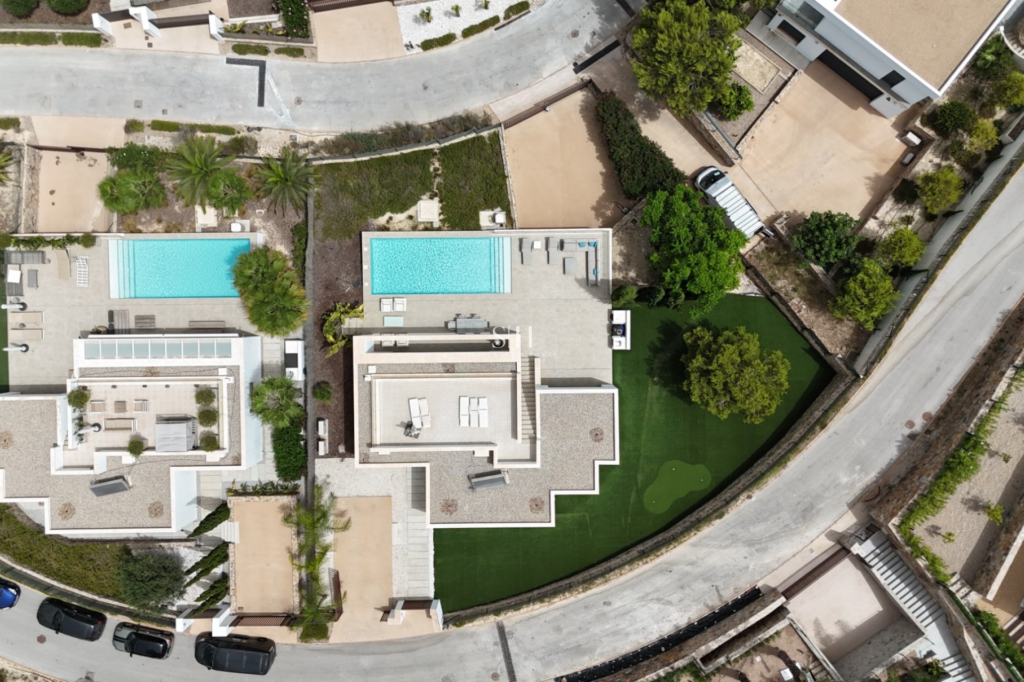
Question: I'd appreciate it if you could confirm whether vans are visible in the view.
Yes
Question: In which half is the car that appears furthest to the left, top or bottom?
bottom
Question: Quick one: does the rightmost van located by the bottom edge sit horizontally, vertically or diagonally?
horizontally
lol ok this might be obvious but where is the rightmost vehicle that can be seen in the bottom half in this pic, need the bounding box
[195,630,278,676]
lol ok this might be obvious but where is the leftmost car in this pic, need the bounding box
[0,576,26,608]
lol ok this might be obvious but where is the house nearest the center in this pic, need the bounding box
[354,333,619,528]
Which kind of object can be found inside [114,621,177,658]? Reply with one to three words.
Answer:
car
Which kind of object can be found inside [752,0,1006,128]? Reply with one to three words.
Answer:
house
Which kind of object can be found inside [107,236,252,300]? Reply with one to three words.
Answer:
swimming pool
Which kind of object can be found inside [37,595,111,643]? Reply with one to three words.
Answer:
car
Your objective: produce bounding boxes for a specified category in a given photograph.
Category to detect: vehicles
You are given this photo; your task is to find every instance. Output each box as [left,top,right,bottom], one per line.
[0,576,26,608]
[114,621,177,658]
[37,595,111,643]
[195,630,278,676]
[697,168,778,245]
